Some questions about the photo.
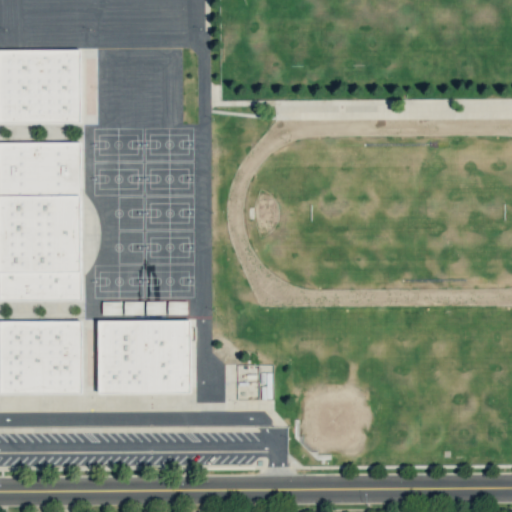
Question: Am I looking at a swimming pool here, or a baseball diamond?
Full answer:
The one in the frame is a baseball diamond.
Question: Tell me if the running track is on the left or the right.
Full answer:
The running track appears in the right half of the scene.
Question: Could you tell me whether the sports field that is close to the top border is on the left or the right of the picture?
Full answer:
It is on the right.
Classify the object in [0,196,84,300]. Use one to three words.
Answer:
building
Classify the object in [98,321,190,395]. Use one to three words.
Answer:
building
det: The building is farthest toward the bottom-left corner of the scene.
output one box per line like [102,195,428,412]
[0,321,84,394]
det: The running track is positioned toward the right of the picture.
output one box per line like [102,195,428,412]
[228,120,512,306]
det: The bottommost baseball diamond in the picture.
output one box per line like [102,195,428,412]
[295,384,373,464]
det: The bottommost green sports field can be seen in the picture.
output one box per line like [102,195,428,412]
[246,136,512,290]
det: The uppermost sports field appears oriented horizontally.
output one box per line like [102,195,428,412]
[222,0,512,78]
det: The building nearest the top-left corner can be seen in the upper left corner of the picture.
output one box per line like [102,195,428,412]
[0,49,82,122]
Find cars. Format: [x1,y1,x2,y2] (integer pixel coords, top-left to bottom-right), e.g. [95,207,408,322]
[208,456,216,464]
[194,454,202,462]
